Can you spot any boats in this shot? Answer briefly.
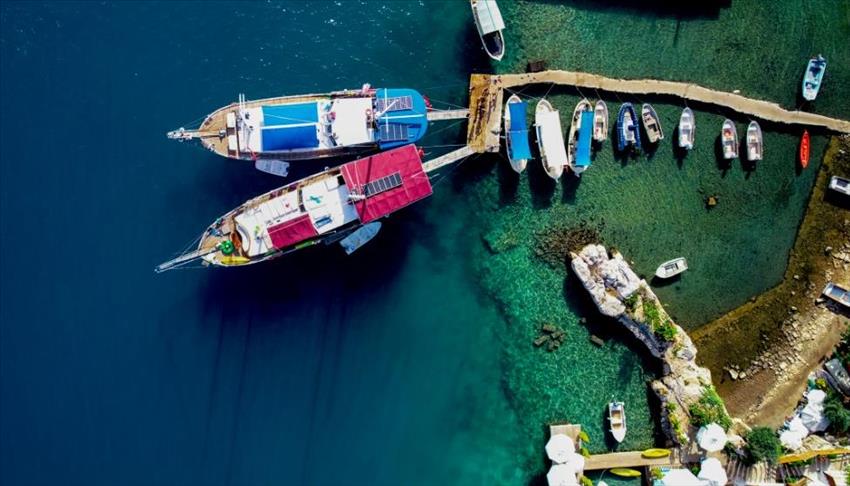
Yes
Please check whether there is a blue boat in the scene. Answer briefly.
Yes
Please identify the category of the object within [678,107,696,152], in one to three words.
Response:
boat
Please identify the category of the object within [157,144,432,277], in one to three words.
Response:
boat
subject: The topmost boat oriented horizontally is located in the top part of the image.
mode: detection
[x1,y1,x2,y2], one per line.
[168,83,432,163]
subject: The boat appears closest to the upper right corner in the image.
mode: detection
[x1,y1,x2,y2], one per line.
[804,56,826,100]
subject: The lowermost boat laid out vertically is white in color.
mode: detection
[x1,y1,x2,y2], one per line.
[610,400,629,444]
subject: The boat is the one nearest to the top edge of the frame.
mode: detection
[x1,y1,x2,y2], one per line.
[475,0,507,60]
